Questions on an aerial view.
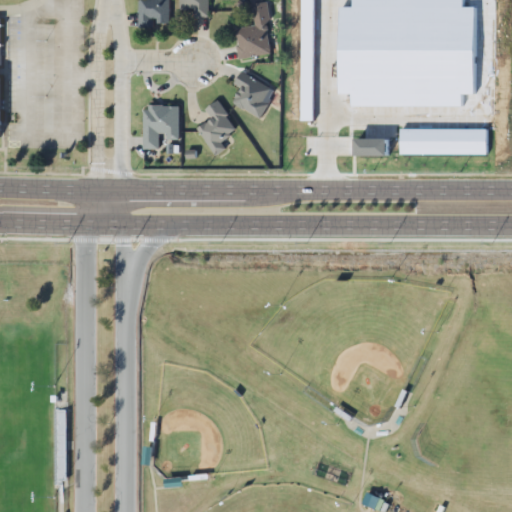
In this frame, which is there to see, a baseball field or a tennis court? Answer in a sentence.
This aerial view contains a baseball field.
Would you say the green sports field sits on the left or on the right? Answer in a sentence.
The green sports field is on the left side of the image.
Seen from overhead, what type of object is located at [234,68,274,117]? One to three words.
house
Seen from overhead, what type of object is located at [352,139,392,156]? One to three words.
building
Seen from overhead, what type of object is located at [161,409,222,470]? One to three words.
baseball field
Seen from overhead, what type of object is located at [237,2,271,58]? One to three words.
house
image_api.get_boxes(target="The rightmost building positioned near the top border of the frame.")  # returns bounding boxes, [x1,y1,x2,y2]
[336,0,478,106]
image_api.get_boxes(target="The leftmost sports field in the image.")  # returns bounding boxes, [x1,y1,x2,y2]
[0,312,56,512]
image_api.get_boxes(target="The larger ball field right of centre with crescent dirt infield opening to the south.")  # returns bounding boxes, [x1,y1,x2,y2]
[332,342,403,416]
